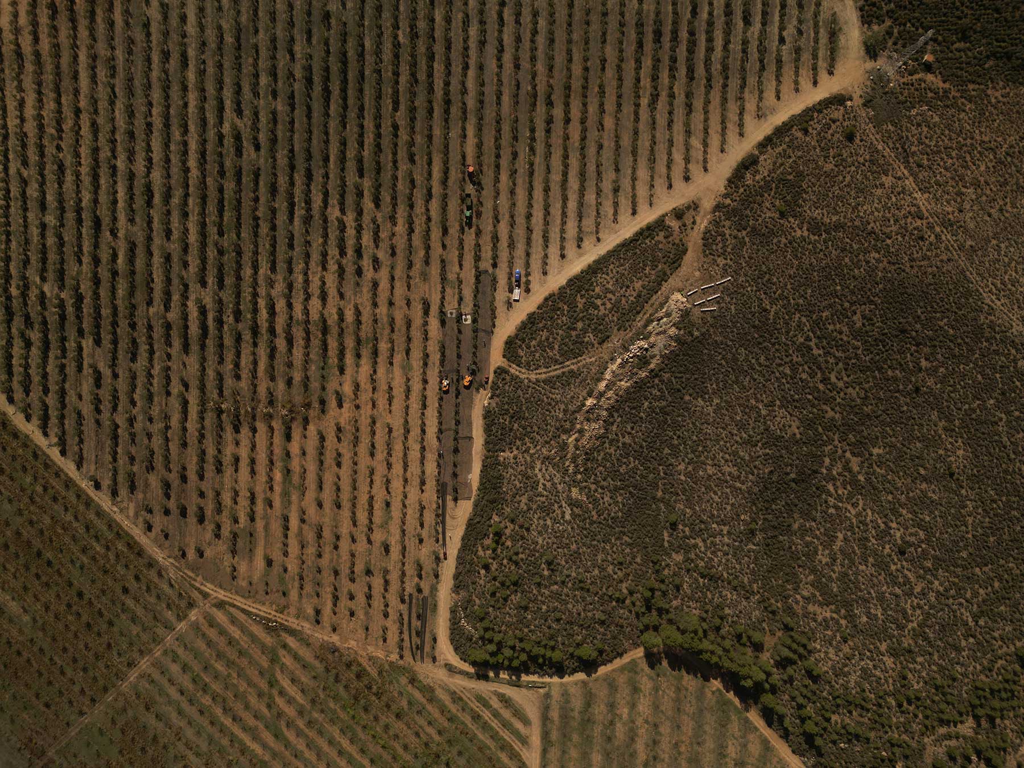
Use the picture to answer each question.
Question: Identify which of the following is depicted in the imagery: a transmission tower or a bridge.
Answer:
transmission tower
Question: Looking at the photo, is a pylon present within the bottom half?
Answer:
No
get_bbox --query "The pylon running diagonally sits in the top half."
[870,28,937,86]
